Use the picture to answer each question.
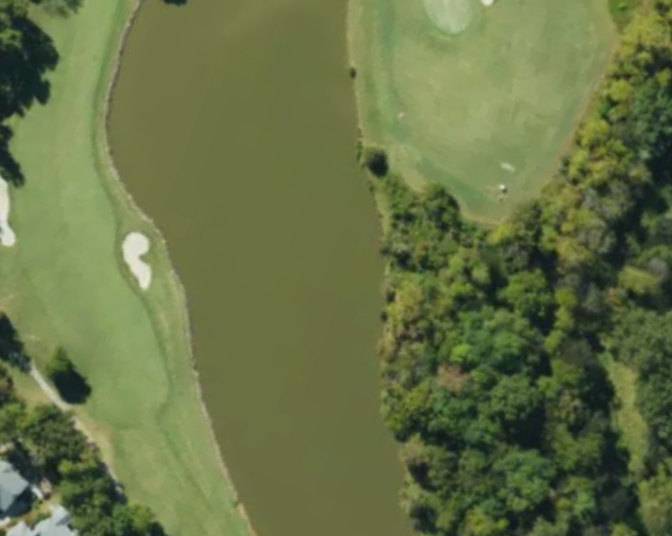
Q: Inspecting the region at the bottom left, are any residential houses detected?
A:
Yes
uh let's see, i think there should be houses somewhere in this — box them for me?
[0,461,28,514]
[6,503,74,536]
